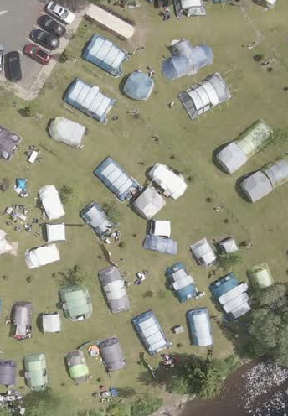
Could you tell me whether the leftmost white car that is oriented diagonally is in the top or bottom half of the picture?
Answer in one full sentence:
The top half of the photo is where the leftmost white car that is oriented diagonally is.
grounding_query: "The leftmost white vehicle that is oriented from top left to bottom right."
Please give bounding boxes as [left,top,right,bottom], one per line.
[47,2,76,26]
